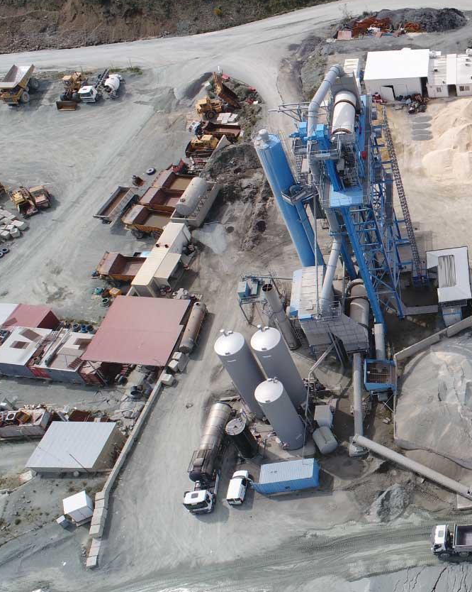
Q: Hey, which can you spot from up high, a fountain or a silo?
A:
silo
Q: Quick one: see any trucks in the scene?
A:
Yes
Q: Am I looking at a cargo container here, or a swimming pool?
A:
cargo container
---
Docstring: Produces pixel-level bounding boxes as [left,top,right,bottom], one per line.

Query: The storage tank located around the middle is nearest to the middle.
[178,302,209,354]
